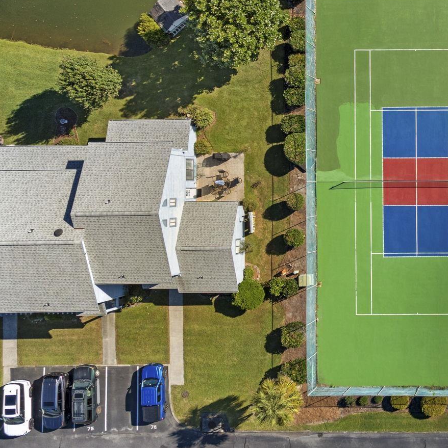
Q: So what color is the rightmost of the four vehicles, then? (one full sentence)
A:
The color of the rightmost of the four vehicles is blue.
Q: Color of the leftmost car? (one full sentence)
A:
The leftmost car looks white in the image.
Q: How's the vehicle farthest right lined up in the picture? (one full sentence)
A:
The vehicle farthest right runs up and down in the image.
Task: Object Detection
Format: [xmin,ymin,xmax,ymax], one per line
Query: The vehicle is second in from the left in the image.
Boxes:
[41,370,71,427]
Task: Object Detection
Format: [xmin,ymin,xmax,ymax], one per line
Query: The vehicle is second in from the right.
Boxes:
[70,364,102,422]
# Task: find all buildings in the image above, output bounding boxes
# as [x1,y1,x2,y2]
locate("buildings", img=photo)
[149,0,201,46]
[0,119,245,313]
